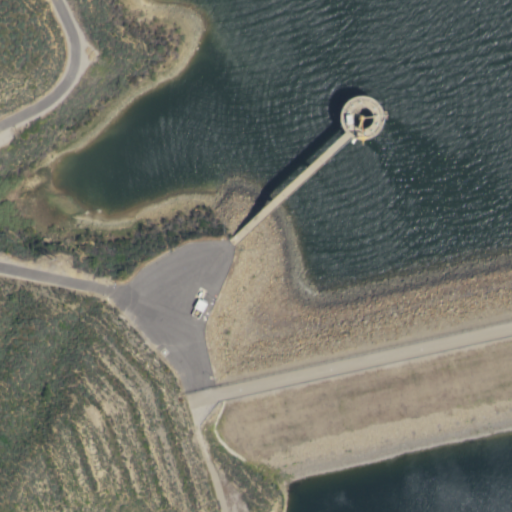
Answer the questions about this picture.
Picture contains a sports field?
No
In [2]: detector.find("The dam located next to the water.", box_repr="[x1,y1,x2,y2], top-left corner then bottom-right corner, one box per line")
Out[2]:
[186,172,512,476]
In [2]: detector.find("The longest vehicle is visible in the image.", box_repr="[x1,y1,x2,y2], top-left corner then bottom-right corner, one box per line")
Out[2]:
[192,298,208,319]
